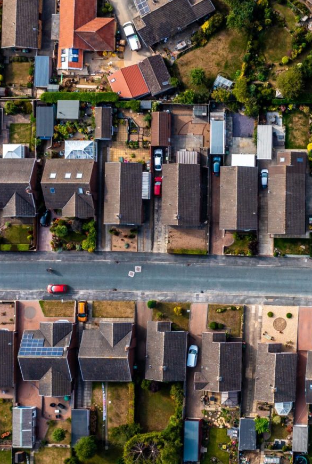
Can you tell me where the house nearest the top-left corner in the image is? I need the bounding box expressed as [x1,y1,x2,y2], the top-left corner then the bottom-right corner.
[2,0,42,50]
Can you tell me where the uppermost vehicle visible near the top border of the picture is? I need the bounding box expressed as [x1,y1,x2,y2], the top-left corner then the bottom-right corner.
[122,20,144,52]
